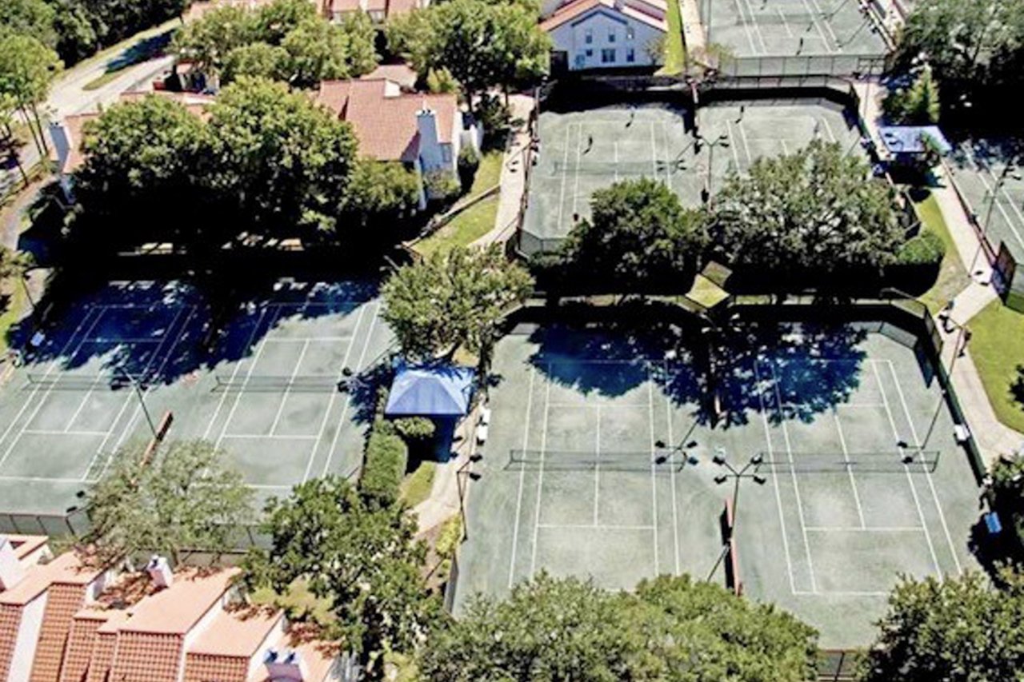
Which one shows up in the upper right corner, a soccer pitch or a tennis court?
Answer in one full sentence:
You can see a tennis court in the upper right corner.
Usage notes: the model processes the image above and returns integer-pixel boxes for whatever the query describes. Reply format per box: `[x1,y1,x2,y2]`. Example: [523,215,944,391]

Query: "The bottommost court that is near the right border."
[713,315,1024,682]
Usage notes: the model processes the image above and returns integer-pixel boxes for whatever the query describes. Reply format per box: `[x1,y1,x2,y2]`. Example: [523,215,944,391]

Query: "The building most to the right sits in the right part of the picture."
[877,126,950,176]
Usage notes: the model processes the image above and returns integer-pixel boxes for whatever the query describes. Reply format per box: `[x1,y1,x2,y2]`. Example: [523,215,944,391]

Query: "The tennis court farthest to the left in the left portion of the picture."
[0,276,228,552]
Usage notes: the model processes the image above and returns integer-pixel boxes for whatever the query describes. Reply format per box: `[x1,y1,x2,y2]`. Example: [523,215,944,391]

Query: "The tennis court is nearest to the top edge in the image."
[705,0,888,76]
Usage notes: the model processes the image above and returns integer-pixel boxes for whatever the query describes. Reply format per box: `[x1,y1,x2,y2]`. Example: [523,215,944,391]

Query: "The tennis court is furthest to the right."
[942,129,1024,297]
